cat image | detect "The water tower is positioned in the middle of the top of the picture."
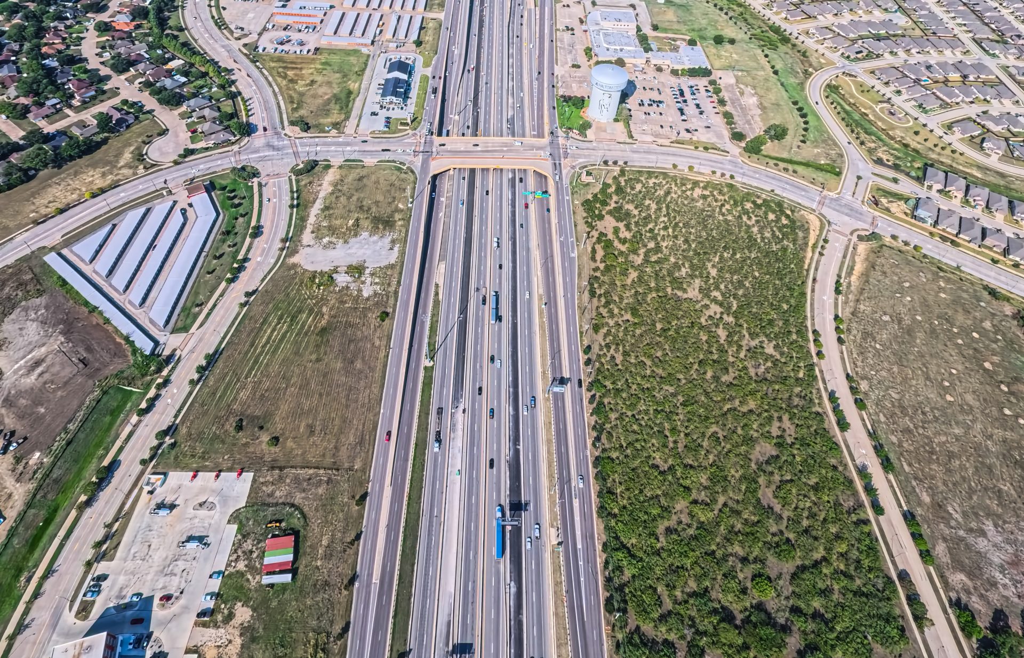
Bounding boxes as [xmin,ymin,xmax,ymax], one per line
[588,66,629,123]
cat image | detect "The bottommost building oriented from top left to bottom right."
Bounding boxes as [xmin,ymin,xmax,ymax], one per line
[44,252,155,357]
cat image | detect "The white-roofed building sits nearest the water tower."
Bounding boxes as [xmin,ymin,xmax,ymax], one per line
[581,9,710,73]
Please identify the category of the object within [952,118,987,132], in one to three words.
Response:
house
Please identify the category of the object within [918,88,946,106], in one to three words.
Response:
house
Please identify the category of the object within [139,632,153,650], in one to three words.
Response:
vehicle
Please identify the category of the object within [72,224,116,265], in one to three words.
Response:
building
